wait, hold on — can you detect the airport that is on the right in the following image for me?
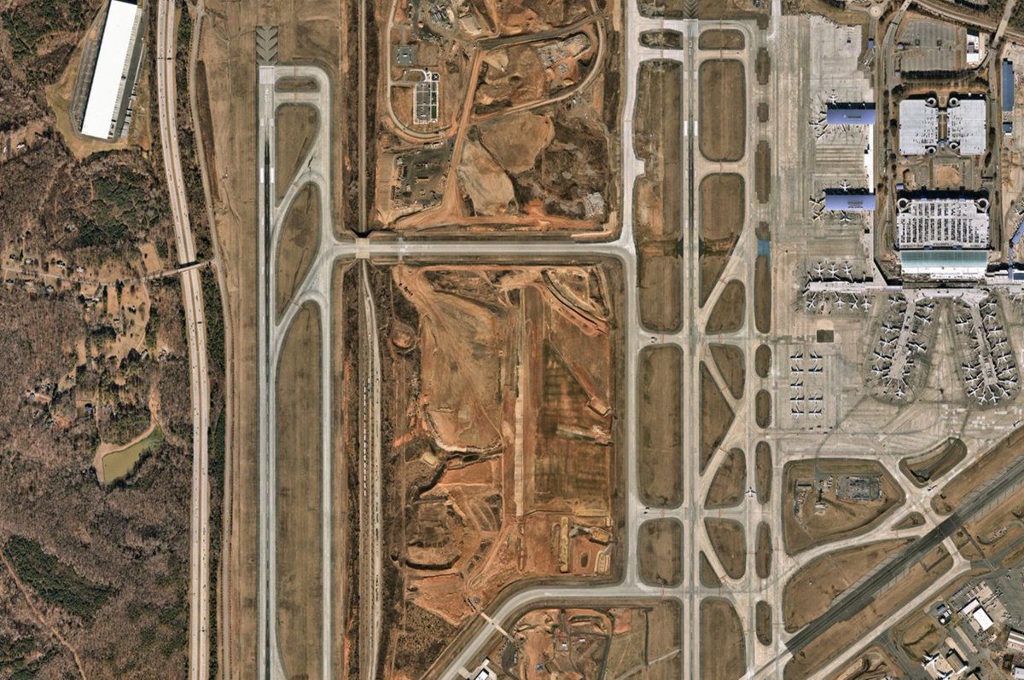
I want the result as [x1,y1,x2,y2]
[256,0,1024,680]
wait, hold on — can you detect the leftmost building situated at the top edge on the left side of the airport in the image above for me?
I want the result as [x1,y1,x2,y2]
[81,0,137,138]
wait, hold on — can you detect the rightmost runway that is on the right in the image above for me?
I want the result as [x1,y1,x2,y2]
[785,454,1024,654]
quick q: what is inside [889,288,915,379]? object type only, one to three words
building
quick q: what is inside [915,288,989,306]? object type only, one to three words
building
